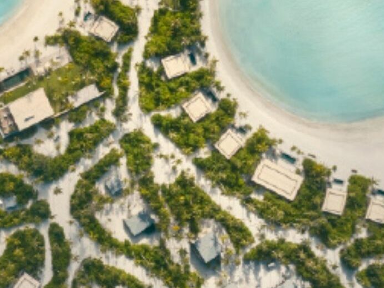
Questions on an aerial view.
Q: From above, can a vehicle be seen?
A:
No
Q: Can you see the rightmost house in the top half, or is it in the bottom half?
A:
bottom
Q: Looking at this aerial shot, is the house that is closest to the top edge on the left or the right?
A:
left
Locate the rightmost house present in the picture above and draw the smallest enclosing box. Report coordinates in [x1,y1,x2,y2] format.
[361,185,384,224]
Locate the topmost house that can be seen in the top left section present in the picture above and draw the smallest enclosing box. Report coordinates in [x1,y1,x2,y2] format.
[77,8,117,42]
